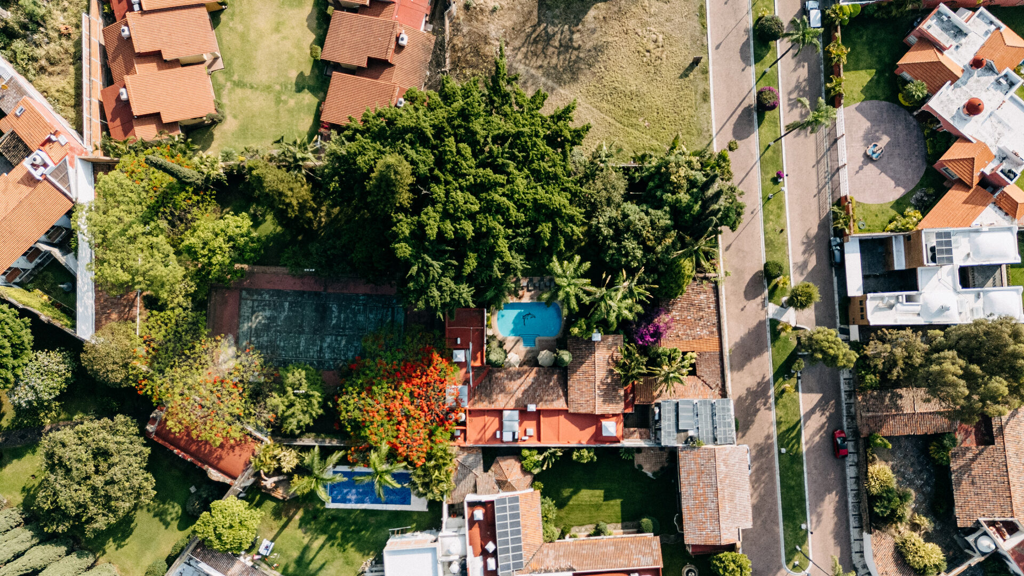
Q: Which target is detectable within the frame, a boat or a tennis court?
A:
tennis court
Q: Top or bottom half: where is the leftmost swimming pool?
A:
bottom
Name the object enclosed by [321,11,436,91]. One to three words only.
house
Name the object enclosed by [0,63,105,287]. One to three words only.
house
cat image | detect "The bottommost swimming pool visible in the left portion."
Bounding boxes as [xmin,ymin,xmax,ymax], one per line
[325,465,428,511]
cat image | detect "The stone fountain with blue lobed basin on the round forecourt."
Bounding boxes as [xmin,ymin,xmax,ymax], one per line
[864,140,888,163]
